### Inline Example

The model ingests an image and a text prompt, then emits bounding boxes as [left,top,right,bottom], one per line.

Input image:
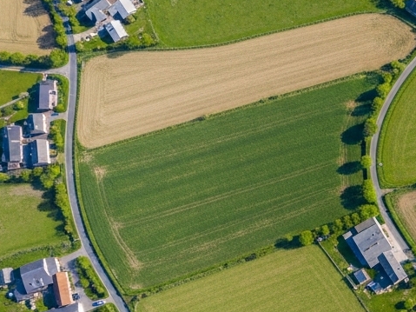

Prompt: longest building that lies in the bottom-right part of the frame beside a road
[343,218,410,286]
